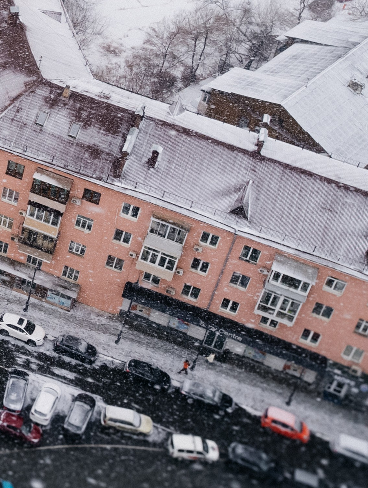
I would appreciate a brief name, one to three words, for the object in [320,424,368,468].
vehicle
